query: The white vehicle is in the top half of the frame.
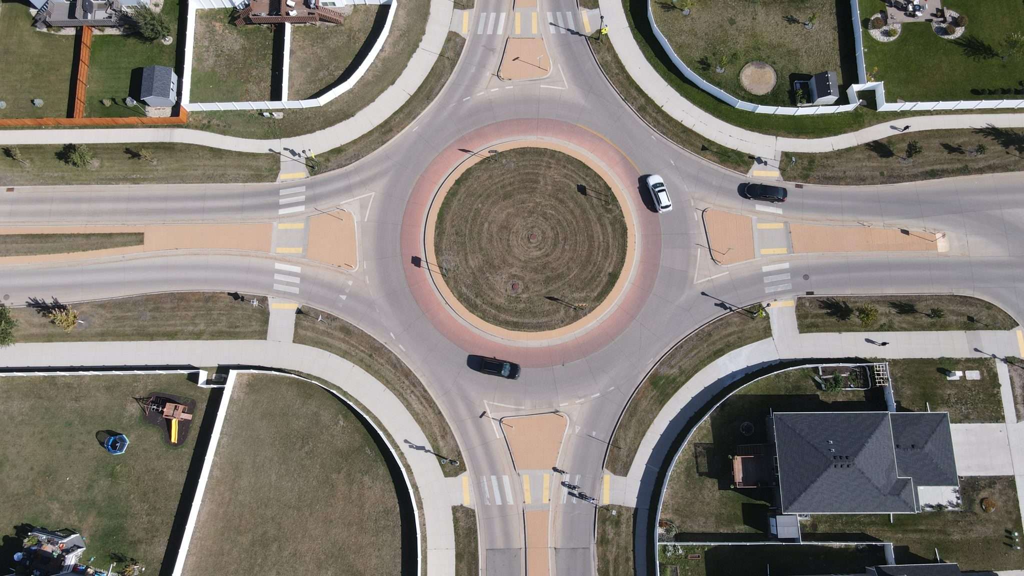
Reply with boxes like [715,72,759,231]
[649,173,676,212]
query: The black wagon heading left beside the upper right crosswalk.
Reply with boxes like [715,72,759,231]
[746,180,791,204]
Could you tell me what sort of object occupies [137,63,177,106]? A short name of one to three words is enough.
shed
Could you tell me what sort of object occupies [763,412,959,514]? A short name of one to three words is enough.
house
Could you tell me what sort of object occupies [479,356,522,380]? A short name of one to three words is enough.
car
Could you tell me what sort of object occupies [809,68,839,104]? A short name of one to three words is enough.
shed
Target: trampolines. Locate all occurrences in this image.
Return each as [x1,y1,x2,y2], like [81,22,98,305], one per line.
[102,435,127,454]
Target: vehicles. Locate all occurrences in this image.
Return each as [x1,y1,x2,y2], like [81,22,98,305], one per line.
[649,173,676,212]
[746,180,791,204]
[479,356,522,380]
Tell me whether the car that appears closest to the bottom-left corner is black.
Yes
